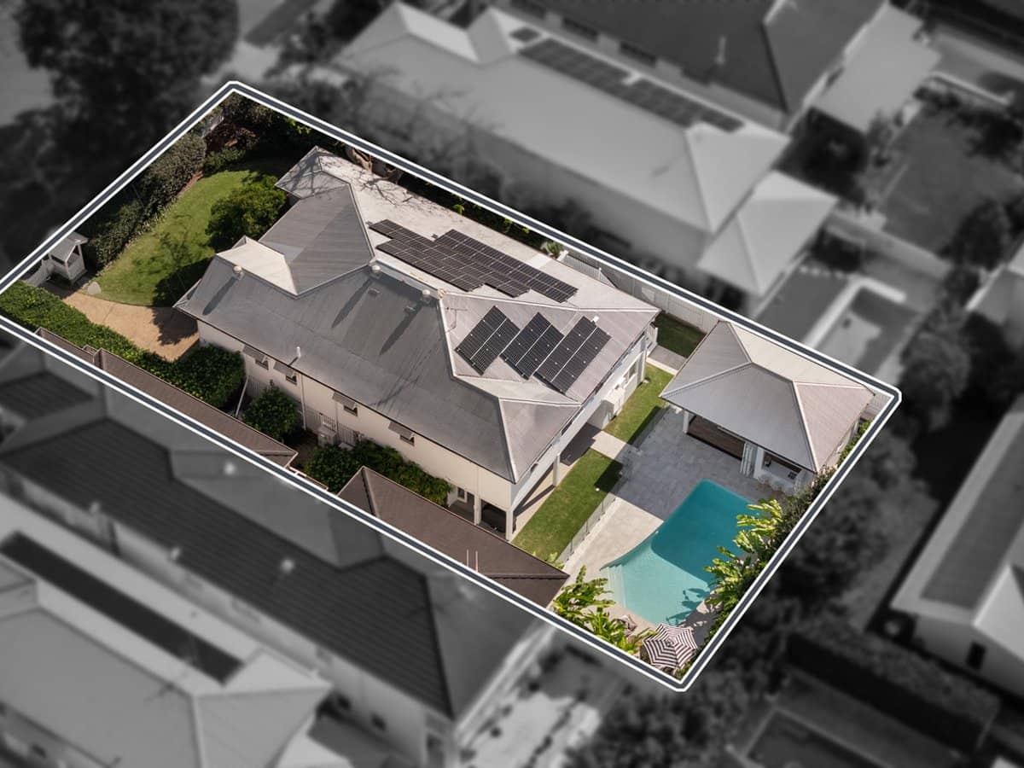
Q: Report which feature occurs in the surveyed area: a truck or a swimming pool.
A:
swimming pool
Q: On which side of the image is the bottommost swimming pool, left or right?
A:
right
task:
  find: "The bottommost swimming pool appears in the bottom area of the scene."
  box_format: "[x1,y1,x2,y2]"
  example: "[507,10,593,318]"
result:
[595,475,779,628]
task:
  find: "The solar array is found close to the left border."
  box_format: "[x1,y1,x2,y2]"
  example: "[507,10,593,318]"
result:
[0,530,238,672]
